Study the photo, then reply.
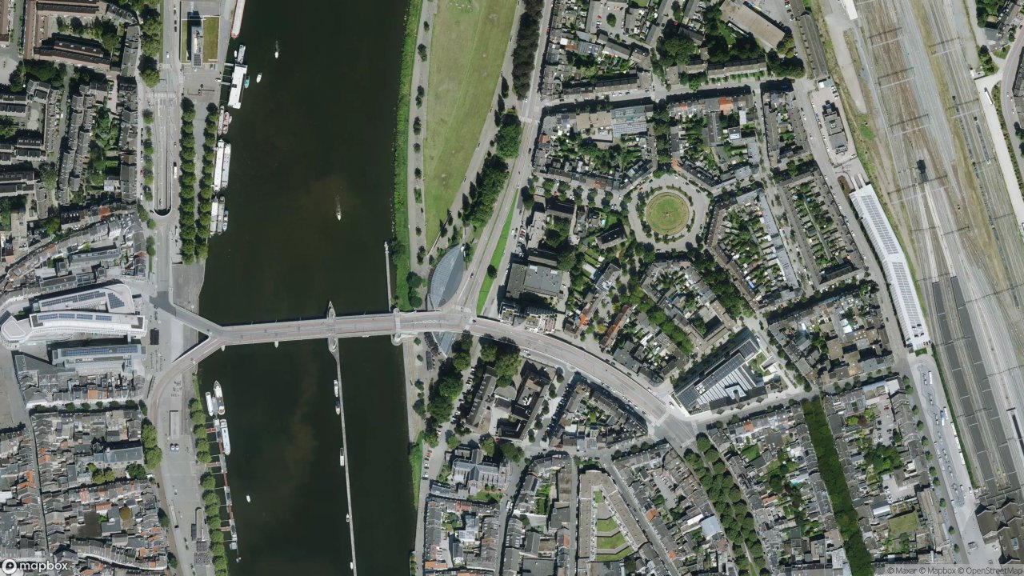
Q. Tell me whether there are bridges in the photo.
Yes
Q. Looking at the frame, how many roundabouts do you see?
1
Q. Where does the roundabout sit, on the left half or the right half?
right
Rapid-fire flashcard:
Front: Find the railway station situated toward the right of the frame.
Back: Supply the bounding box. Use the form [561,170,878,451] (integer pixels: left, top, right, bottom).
[932,276,1024,576]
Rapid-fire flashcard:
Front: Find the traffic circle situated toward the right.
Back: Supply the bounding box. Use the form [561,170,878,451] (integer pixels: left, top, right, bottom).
[641,187,693,239]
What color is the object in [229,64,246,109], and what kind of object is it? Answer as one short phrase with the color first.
white boat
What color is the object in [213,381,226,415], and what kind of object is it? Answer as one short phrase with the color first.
white boat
